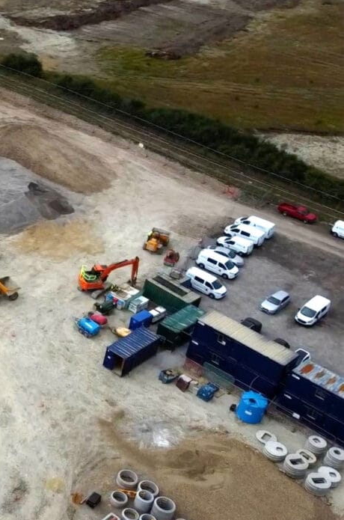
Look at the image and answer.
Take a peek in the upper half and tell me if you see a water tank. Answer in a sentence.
No, no water tank can be made out in the upper half.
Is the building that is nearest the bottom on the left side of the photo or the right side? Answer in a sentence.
The building that is nearest the bottom sits on the right side.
